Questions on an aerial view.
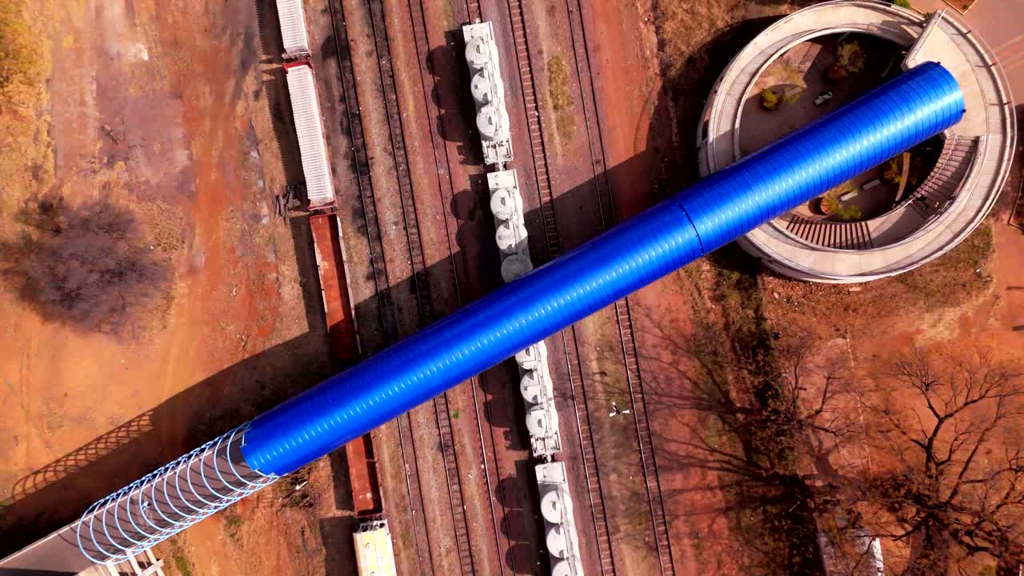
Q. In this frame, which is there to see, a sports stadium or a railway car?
railway car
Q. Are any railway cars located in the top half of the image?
Yes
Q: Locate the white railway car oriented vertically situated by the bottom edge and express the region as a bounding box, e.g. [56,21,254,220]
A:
[536,454,584,576]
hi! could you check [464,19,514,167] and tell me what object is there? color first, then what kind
white rail car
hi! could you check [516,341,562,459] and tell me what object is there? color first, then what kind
white rail car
